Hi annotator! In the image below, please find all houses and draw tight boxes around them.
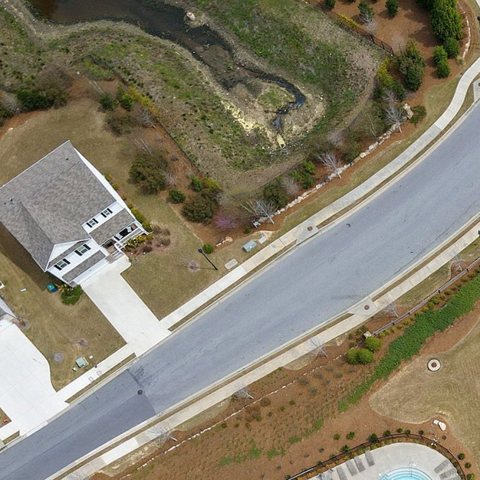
[0,297,19,332]
[0,140,150,290]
